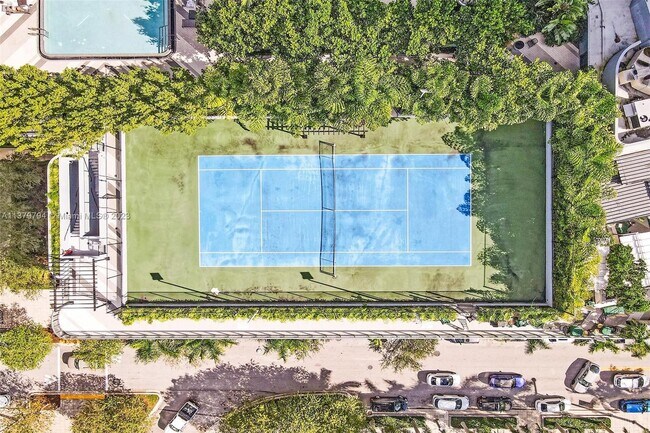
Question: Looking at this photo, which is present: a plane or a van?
van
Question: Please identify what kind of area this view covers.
sports ground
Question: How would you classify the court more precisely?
tennis court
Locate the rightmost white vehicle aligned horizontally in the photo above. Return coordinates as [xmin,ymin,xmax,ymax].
[611,373,648,390]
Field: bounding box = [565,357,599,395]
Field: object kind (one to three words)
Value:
van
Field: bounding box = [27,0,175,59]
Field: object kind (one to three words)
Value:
swimming pool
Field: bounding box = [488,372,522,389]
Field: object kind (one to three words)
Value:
car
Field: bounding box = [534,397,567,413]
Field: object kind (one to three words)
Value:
car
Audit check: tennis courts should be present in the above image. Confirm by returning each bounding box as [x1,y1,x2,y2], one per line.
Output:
[126,119,547,300]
